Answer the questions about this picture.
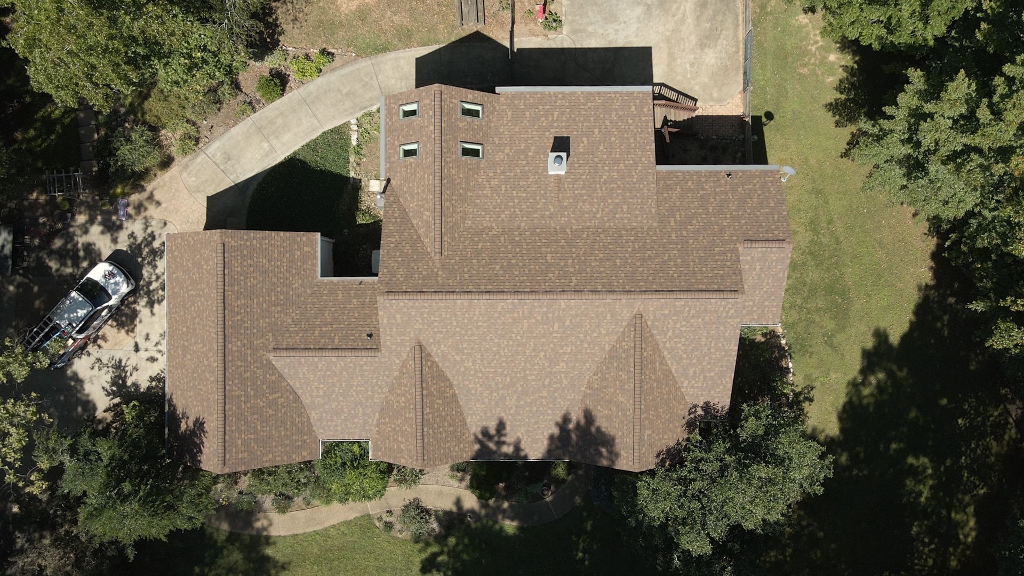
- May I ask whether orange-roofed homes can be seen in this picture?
No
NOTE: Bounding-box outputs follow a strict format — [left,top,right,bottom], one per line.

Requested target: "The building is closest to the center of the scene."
[164,83,793,474]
